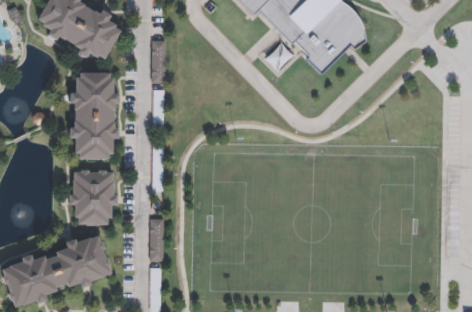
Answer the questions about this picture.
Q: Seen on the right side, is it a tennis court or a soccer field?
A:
soccer field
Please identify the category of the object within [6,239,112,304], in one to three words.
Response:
building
